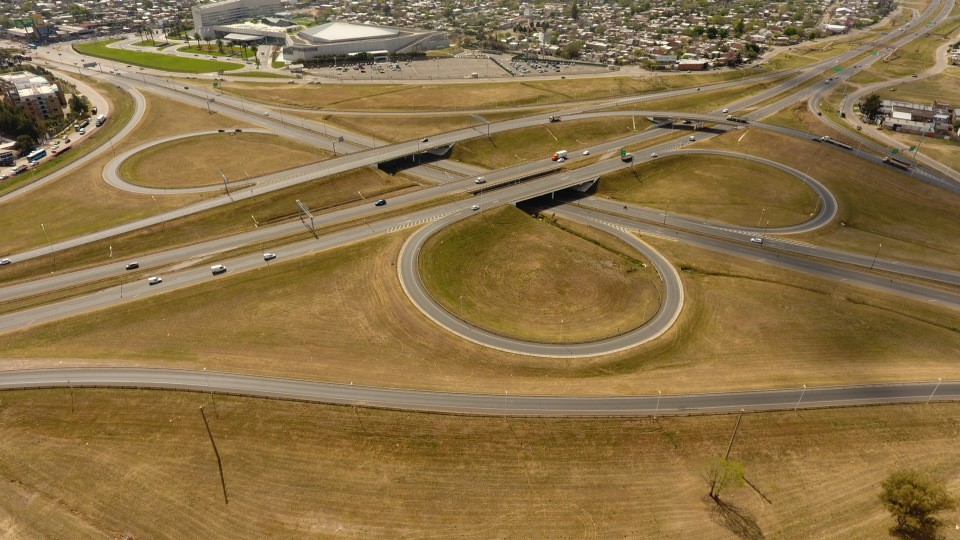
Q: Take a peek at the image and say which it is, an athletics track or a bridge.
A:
bridge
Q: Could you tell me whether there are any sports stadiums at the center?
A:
No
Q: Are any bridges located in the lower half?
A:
No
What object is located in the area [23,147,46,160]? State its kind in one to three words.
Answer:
vehicle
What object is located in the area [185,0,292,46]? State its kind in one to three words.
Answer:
building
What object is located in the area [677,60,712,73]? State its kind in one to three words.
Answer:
building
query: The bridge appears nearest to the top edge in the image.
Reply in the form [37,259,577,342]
[638,111,742,135]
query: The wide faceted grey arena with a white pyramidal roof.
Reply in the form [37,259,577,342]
[282,20,450,66]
